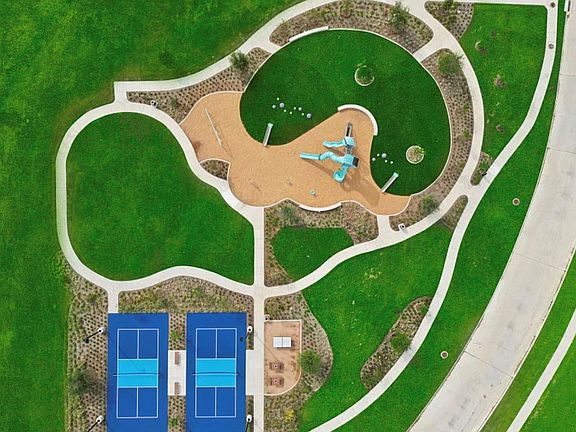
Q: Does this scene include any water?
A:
No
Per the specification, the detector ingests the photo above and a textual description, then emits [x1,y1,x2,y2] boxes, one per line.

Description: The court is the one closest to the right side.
[186,312,247,432]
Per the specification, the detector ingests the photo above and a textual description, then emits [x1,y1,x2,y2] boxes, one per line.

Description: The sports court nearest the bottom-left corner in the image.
[107,313,168,432]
